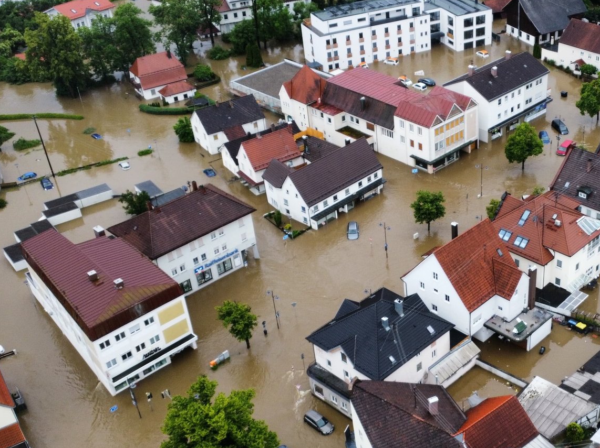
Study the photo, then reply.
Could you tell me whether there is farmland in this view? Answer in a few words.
No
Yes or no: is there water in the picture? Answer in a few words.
Yes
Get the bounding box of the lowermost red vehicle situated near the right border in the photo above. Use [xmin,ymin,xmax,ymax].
[557,141,574,155]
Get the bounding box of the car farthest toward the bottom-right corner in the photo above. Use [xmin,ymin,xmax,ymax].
[301,411,336,439]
